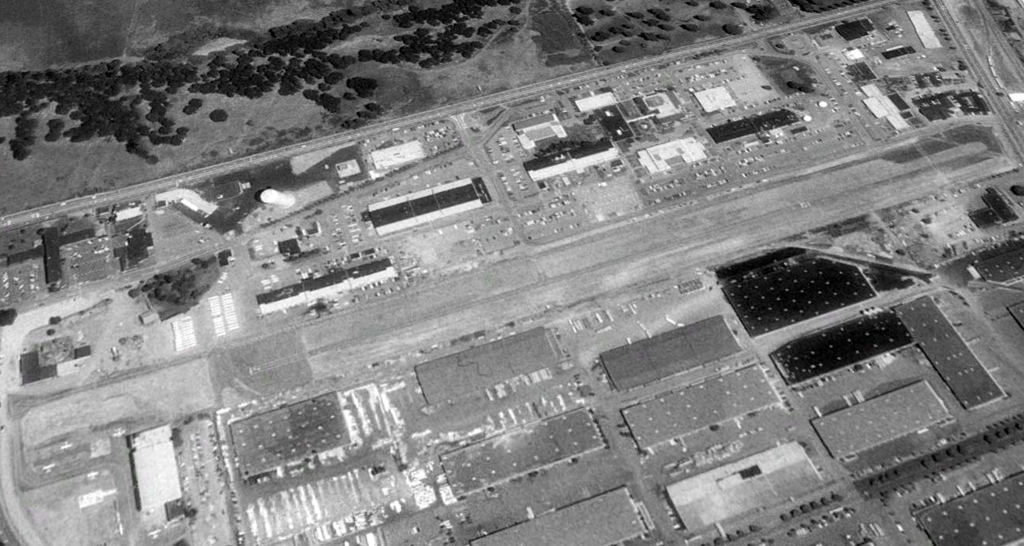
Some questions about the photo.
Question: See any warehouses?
Yes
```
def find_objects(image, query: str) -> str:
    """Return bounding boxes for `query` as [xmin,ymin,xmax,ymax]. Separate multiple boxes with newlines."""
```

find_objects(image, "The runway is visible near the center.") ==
[249,187,834,373]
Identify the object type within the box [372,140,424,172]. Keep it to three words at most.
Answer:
building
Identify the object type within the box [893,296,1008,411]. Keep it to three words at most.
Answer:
warehouse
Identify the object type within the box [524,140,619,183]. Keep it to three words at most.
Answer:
hangar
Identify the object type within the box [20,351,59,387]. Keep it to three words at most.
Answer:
house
